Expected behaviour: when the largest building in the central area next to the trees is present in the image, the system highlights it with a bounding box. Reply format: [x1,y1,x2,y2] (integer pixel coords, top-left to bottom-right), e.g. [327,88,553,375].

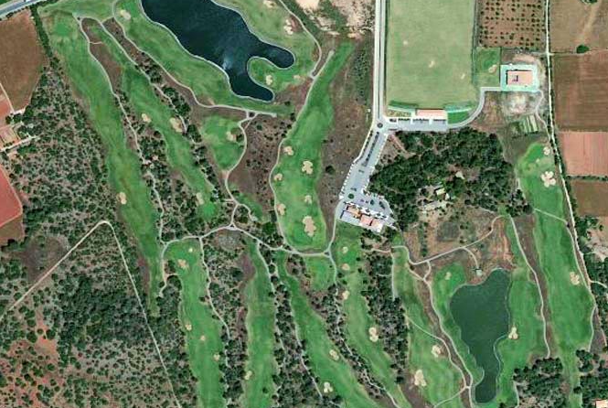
[337,200,386,234]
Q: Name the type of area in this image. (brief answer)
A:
golf course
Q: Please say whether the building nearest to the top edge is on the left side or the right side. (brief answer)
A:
right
